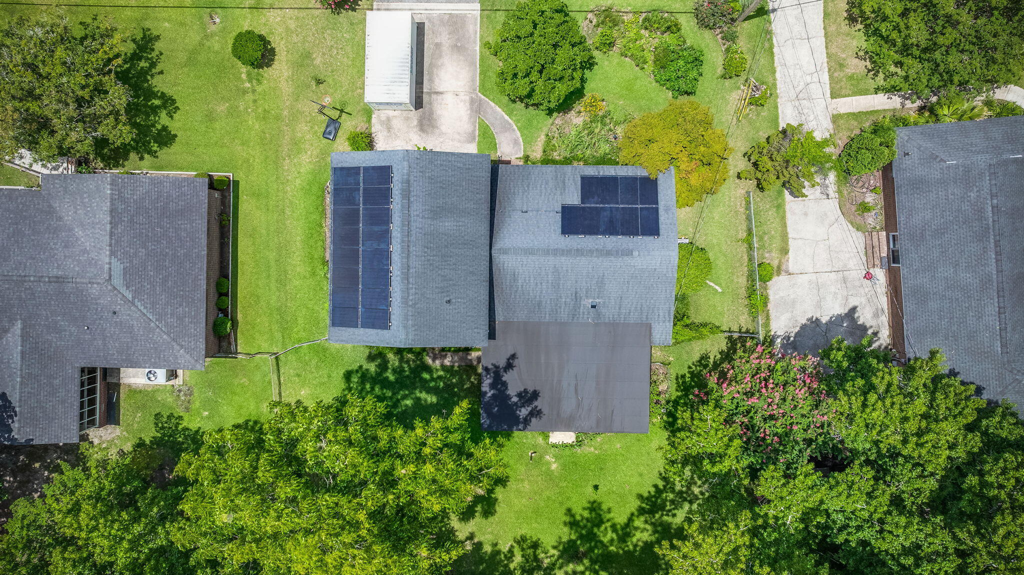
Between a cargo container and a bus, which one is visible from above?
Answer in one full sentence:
The one in the frame is a cargo container.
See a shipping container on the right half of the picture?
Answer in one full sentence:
No, looking on the right half of the picture, there is no shipping container.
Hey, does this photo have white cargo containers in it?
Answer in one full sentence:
Yes, this view includes a white cargo container.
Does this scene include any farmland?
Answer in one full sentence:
No, the scene doesn't show any farmland.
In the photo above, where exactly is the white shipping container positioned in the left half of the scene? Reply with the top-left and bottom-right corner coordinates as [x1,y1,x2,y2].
[365,11,418,112]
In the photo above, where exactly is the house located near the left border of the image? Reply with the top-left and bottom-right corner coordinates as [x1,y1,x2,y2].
[0,173,221,446]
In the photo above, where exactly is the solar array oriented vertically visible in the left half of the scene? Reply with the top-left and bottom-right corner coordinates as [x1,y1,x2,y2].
[331,165,393,329]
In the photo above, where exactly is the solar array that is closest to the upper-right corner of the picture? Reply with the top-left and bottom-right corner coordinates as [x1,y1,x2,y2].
[561,176,659,238]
